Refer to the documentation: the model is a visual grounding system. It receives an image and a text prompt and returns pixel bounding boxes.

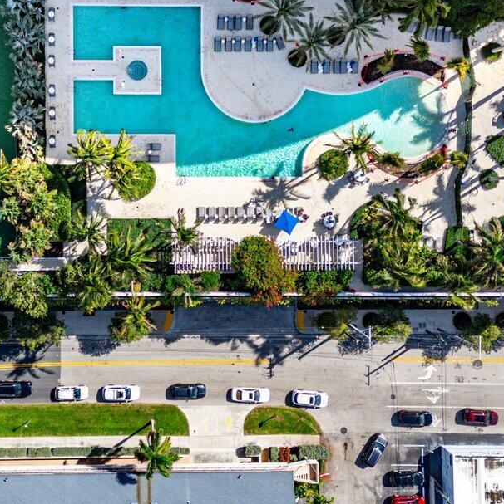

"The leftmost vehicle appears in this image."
[0,380,32,399]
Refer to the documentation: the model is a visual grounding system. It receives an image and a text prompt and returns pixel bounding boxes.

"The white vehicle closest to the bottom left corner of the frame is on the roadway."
[52,384,89,403]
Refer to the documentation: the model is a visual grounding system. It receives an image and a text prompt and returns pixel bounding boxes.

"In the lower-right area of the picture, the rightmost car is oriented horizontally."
[461,408,501,428]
